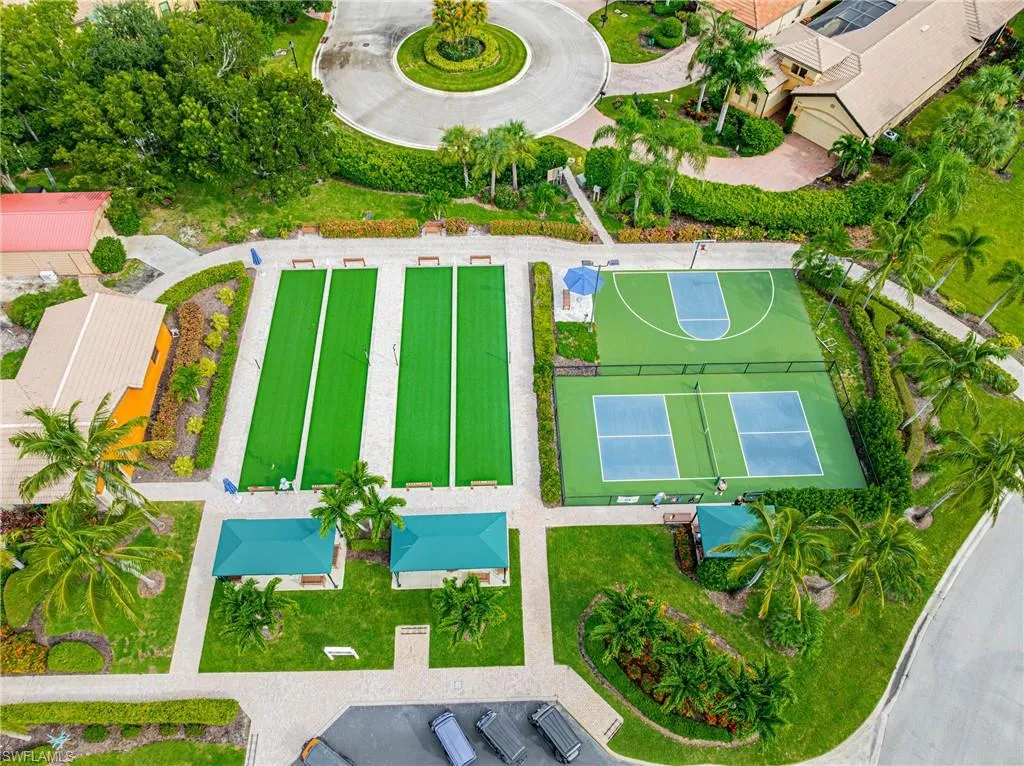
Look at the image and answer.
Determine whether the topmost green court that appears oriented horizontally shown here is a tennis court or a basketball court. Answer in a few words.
basketball court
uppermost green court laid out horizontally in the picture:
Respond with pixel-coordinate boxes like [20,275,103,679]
[600,268,826,375]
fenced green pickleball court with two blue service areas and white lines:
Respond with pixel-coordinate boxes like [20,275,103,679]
[557,370,867,505]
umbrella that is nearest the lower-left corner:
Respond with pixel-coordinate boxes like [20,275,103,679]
[221,477,245,506]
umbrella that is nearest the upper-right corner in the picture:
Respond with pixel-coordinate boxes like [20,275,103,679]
[562,267,602,305]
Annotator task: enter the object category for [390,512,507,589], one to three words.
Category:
building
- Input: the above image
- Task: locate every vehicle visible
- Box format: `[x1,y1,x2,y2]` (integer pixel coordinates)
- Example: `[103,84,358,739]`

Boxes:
[475,708,527,766]
[433,708,478,766]
[308,740,357,766]
[529,702,581,766]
